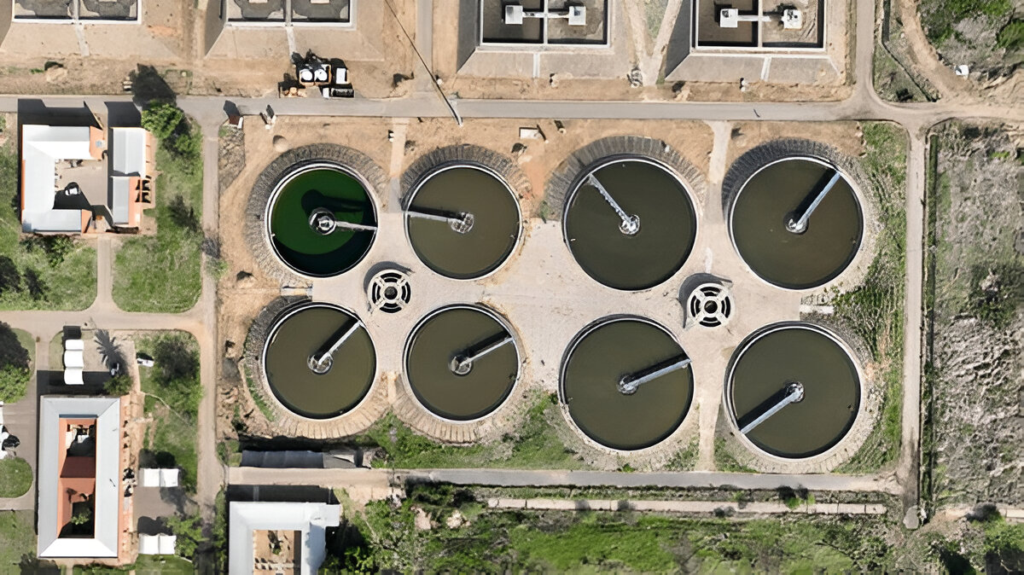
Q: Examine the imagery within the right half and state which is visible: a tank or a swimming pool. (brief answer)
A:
tank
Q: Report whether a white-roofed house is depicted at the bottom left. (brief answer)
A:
Yes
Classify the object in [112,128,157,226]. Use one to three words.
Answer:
house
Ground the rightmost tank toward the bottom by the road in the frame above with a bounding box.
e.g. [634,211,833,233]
[718,312,874,474]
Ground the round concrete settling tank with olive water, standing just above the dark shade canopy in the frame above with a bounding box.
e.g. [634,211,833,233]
[245,295,393,439]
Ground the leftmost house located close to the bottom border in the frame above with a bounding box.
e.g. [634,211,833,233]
[39,395,126,558]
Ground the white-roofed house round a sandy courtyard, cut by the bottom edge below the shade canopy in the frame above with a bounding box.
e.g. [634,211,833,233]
[229,500,343,575]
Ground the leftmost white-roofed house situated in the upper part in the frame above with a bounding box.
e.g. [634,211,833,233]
[22,125,110,232]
